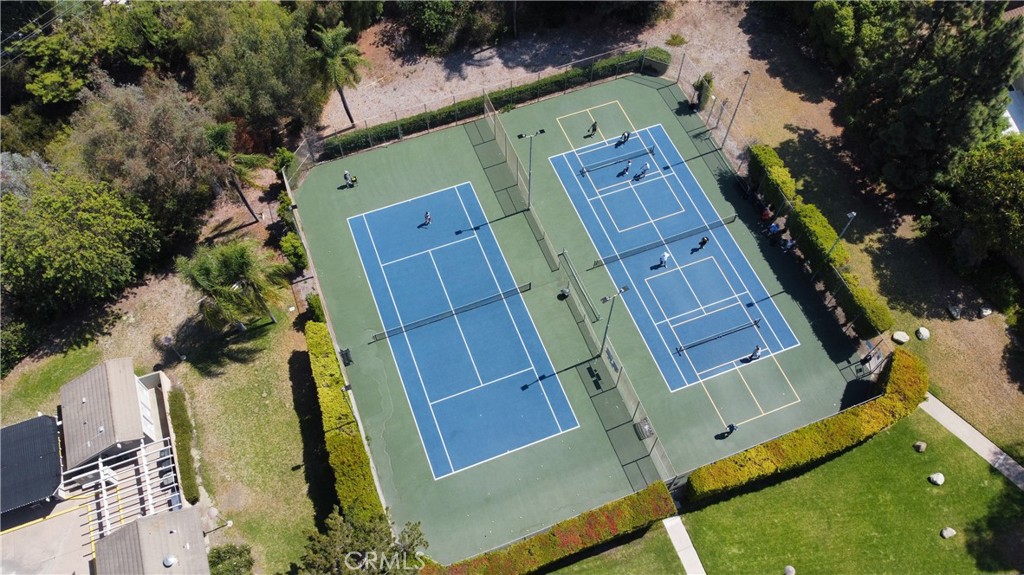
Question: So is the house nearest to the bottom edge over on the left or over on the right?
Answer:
left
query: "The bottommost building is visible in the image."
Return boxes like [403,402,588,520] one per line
[95,506,216,575]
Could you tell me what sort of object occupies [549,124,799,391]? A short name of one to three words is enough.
tennis court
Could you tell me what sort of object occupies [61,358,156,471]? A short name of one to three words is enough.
house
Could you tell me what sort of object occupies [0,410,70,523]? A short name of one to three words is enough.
building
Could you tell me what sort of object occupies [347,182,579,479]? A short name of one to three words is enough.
tennis court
